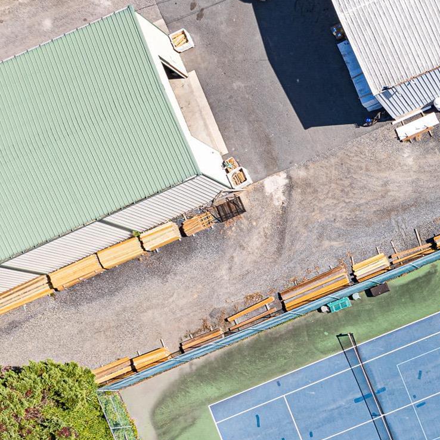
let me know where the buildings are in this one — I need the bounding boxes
[329,0,440,119]
[0,1,233,290]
